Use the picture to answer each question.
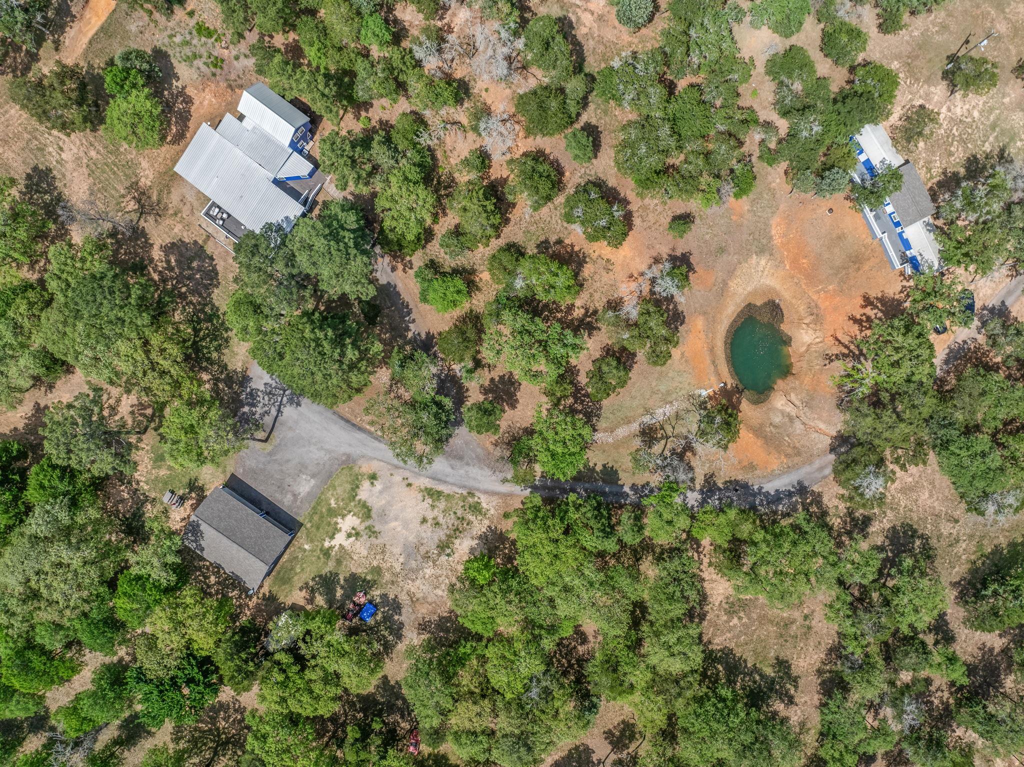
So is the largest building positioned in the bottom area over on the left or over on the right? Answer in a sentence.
The largest building positioned in the bottom area appears in the left half of the scene.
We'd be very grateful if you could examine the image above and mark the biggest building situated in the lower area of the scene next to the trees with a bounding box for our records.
[180,484,295,591]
